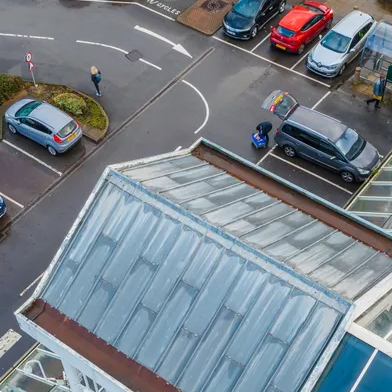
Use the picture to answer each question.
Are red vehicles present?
Yes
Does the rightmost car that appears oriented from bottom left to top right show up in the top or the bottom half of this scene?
top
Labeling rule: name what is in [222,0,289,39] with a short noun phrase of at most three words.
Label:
car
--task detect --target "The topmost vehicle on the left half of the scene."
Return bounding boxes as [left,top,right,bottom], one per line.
[2,97,84,156]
